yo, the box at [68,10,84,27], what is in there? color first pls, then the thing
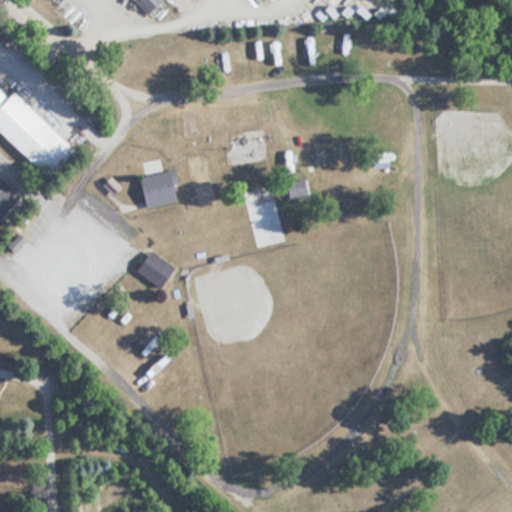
white vehicle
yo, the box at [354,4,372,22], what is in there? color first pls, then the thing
white vehicle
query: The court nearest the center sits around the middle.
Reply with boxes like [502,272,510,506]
[247,188,285,248]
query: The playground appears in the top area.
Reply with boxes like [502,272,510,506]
[228,131,266,166]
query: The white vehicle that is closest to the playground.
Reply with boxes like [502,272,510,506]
[284,147,298,173]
